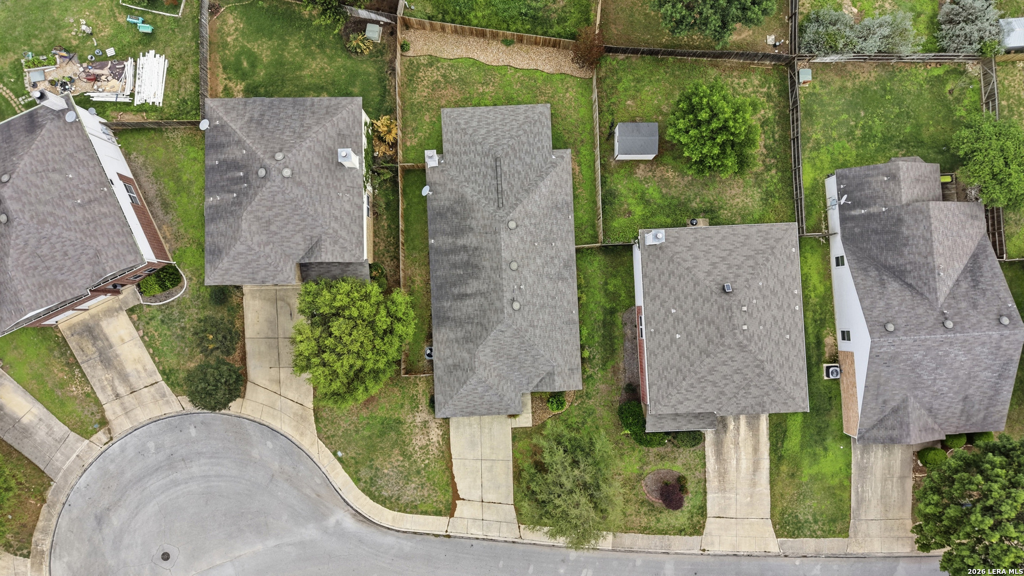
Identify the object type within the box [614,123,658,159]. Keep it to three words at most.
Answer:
shed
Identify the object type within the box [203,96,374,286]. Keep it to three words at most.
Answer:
house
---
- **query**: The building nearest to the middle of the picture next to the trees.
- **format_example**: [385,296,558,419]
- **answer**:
[424,103,582,419]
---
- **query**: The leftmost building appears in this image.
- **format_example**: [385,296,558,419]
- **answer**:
[0,85,176,339]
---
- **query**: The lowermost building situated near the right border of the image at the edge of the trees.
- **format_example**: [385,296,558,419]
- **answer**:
[825,156,1023,444]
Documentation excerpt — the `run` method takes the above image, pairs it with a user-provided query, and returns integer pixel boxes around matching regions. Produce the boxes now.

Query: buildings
[632,222,809,433]
[825,156,1023,444]
[203,96,374,286]
[614,123,658,159]
[0,85,176,339]
[1000,11,1024,47]
[424,103,582,419]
